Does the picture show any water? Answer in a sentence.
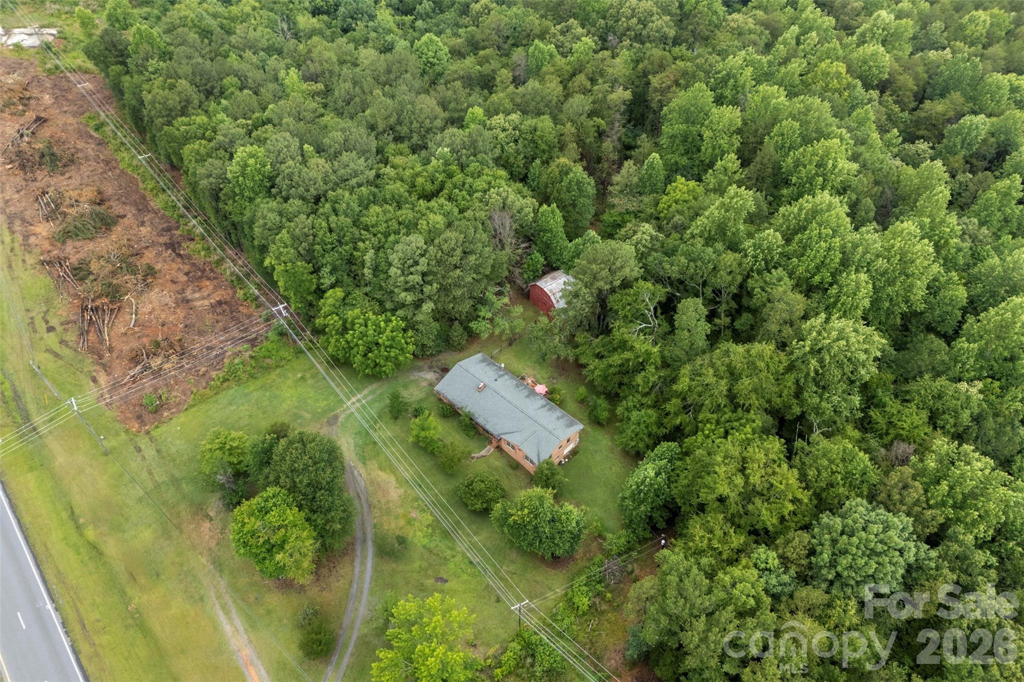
No, no water is visible.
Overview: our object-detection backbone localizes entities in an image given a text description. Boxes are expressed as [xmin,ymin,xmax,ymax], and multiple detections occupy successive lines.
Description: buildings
[528,267,588,322]
[434,354,586,477]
